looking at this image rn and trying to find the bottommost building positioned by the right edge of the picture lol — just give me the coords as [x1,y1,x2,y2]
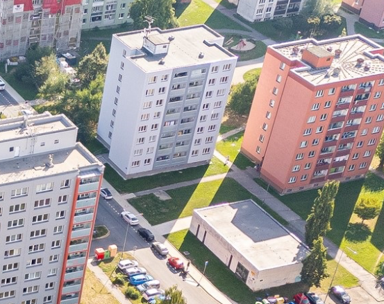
[240,38,384,194]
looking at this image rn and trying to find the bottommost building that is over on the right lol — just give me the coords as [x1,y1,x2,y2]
[189,198,300,290]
